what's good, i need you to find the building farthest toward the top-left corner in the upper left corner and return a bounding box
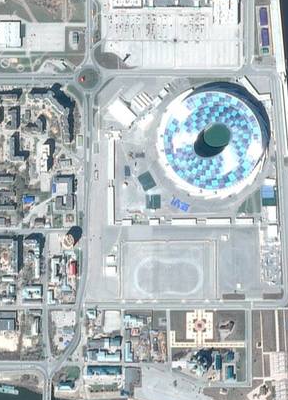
[1,22,21,47]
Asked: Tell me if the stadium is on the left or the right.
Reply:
right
